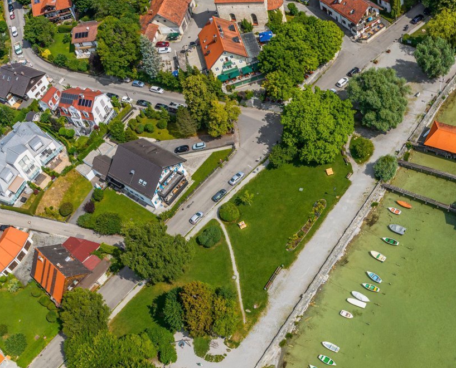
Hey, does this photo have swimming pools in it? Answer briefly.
No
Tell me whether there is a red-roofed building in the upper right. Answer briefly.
Yes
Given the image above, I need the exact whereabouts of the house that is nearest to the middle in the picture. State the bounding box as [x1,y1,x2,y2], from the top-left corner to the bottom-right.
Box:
[106,138,196,206]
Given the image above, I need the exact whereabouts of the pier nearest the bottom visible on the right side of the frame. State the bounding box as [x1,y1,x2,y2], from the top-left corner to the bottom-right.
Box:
[381,183,456,215]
